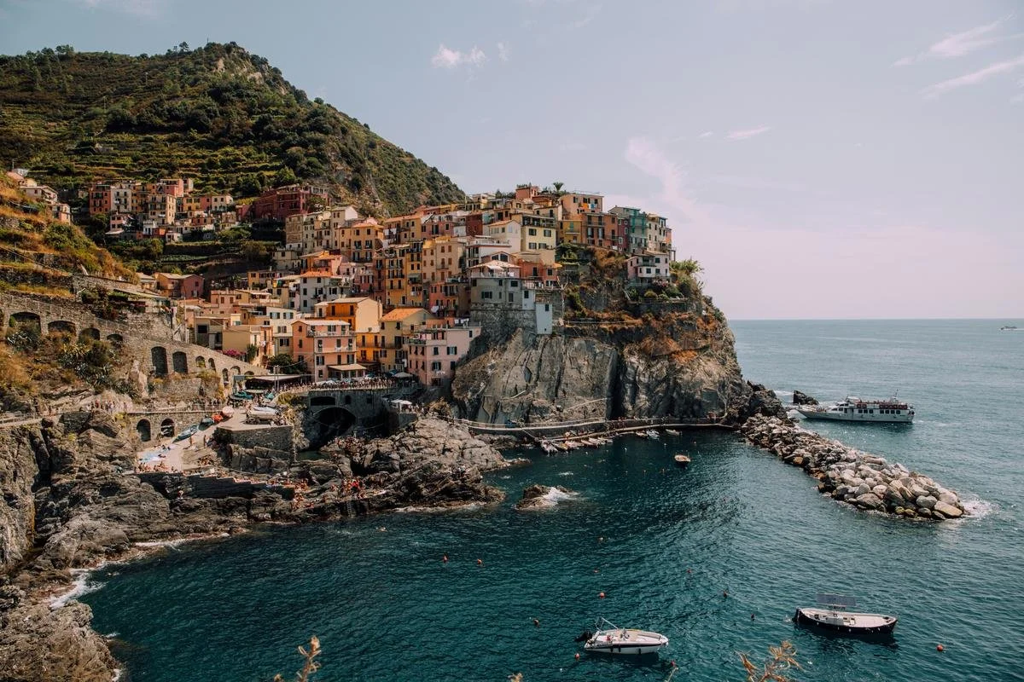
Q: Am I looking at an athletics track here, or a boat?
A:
boat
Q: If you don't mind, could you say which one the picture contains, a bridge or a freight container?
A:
bridge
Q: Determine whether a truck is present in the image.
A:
No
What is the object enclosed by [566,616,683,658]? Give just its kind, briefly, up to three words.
boat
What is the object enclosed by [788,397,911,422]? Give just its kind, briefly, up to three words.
ship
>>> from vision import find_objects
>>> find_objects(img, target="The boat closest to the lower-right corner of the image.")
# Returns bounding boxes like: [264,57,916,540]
[796,585,915,639]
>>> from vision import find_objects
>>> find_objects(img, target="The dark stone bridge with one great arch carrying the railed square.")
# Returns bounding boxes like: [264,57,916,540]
[287,383,424,447]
